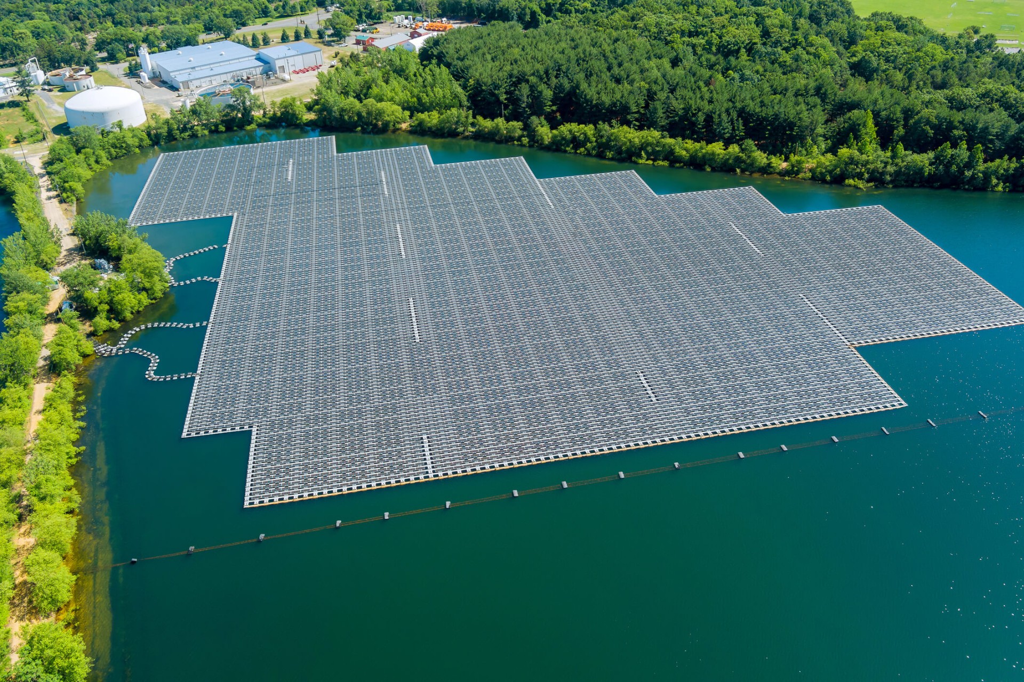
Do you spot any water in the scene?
Yes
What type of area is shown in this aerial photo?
solar farm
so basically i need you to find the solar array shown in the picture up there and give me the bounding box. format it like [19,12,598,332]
[129,136,1024,509]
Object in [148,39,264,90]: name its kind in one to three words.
building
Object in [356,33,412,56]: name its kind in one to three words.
barn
